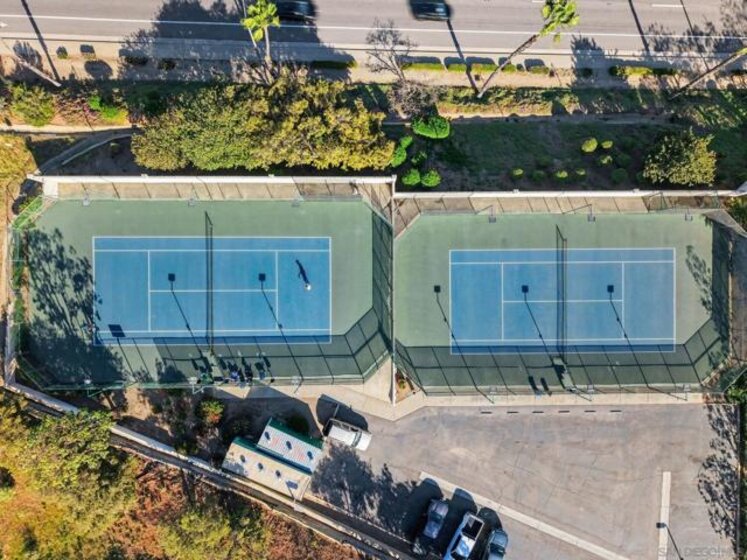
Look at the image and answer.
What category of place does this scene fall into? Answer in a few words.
sports ground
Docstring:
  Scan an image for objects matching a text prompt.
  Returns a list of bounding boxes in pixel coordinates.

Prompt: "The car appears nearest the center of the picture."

[322,413,372,446]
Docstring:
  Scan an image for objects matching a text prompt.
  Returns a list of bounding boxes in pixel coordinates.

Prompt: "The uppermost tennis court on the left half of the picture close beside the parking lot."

[28,201,390,376]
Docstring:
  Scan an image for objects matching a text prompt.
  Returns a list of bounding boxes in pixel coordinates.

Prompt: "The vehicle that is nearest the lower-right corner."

[478,524,506,560]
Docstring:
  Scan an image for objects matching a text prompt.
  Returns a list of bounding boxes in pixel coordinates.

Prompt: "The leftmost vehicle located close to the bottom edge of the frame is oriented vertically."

[422,494,446,540]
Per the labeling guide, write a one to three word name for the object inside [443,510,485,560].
truck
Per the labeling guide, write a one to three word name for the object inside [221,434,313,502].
shed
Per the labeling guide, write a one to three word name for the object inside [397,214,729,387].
tennis court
